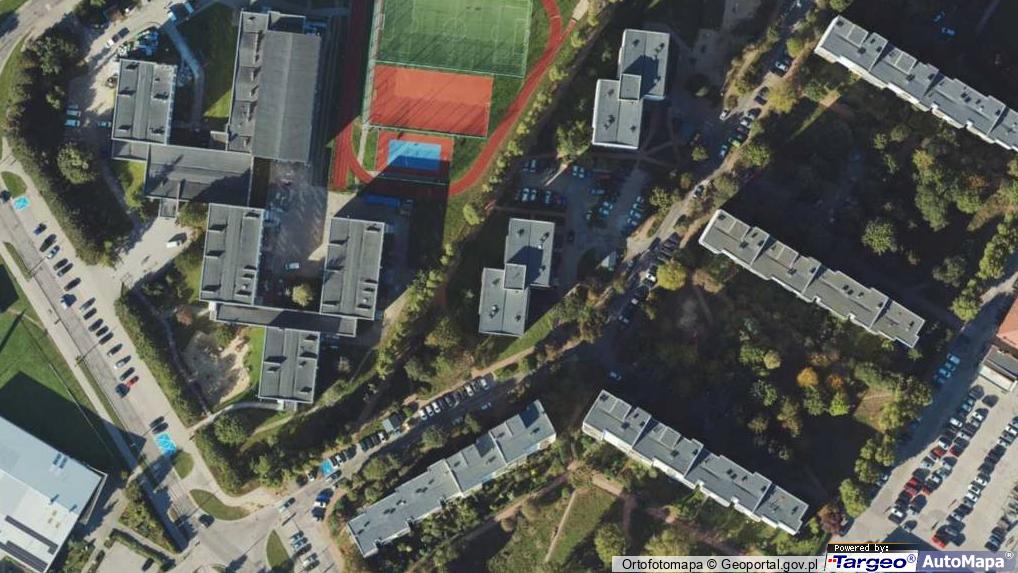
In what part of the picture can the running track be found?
top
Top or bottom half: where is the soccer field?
top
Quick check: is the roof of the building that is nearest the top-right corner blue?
No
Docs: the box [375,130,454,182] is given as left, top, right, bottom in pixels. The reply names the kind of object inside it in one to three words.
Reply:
sports court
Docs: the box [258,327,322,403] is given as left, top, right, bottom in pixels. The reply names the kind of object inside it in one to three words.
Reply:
building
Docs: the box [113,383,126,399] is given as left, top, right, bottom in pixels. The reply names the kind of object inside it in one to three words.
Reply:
vehicle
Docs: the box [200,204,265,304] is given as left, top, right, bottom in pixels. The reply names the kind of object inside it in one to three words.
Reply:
building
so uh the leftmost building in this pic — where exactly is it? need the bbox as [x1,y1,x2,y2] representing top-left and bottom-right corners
[0,414,108,573]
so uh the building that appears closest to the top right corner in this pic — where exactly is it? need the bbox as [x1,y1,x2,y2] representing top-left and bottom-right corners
[813,17,1018,164]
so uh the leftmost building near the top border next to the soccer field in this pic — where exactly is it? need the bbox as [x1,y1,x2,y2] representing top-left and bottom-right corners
[210,10,322,162]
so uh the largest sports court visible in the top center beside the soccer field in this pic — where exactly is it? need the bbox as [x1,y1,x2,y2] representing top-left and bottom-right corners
[369,66,492,136]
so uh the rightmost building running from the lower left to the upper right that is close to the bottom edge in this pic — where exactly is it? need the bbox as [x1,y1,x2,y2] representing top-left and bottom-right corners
[349,400,555,555]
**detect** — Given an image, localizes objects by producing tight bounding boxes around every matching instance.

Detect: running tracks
[331,0,578,201]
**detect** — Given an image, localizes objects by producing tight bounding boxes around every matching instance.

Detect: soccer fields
[376,0,533,78]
